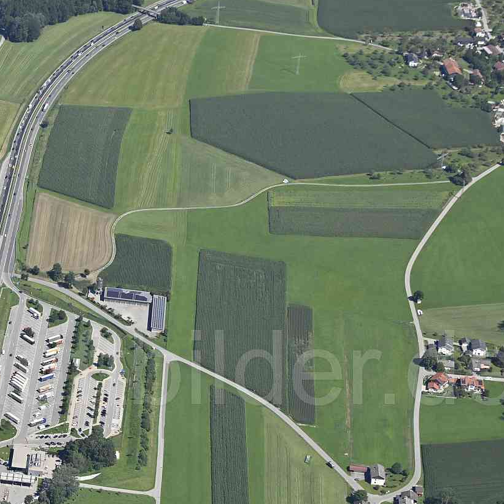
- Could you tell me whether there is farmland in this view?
Yes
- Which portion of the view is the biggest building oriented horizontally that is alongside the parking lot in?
left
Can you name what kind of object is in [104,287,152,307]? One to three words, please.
building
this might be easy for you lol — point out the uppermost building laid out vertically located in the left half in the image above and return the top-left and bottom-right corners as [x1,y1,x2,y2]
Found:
[152,296,167,337]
